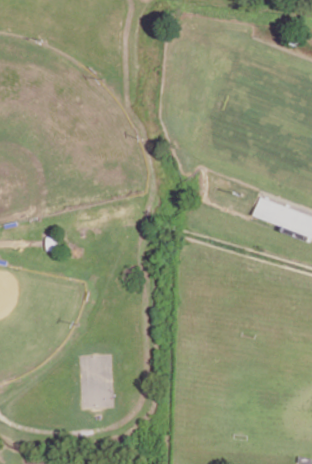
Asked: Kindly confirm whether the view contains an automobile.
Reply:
No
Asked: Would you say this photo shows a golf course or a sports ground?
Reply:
sports ground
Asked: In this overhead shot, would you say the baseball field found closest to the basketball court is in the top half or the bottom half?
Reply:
bottom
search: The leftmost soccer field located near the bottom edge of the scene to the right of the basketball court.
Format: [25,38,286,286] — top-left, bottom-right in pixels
[196,328,288,446]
